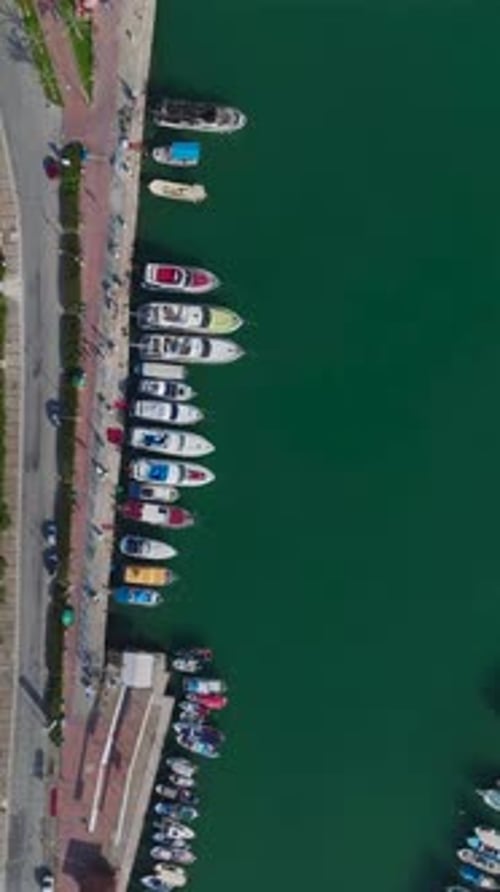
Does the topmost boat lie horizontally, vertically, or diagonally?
horizontally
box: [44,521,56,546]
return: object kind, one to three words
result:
vehicle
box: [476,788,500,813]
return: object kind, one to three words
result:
boat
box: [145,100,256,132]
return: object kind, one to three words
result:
boat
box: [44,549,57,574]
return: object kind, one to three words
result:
vehicle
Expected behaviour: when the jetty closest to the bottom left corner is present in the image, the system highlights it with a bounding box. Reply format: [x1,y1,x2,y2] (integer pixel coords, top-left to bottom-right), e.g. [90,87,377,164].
[57,651,176,892]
